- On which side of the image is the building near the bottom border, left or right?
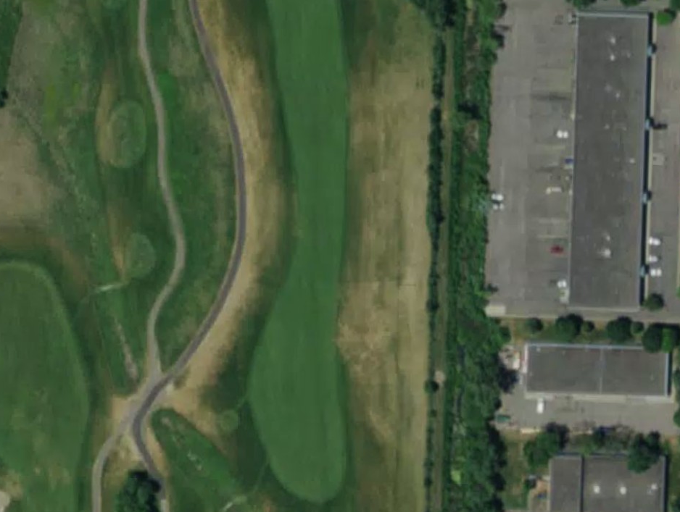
right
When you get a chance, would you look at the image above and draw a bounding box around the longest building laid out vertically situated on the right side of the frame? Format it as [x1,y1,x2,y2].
[566,14,655,312]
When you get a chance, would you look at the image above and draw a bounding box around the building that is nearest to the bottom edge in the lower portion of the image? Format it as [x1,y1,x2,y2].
[549,454,665,512]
